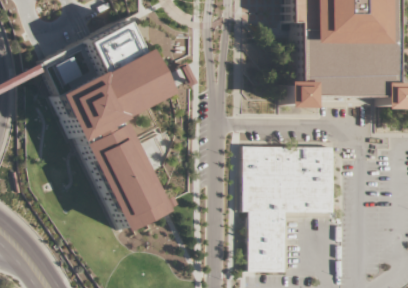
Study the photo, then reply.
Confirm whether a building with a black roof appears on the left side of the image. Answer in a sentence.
No, no building with a black roof appears on the left side of the image.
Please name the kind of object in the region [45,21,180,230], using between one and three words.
building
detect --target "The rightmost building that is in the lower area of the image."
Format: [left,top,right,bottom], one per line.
[240,146,334,272]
